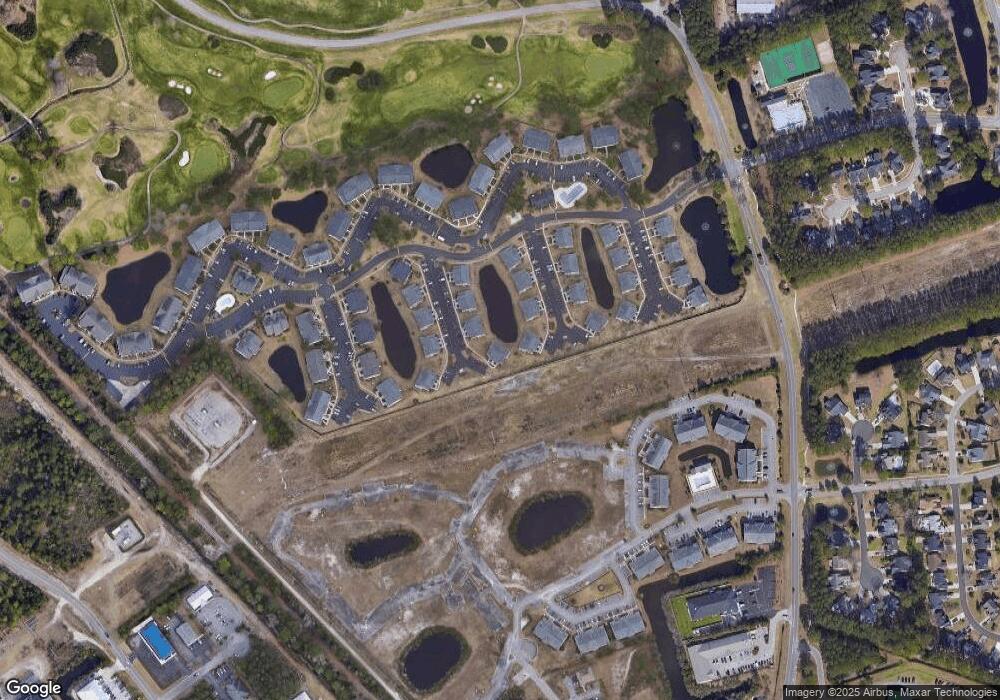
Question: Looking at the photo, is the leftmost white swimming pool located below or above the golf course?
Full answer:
It's below the golf course that the leftmost white swimming pool shows up.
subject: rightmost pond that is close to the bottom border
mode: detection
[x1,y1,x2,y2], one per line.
[642,561,751,700]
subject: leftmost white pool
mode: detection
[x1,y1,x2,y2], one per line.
[215,294,235,313]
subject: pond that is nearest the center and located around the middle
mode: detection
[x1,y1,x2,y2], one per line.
[479,266,519,342]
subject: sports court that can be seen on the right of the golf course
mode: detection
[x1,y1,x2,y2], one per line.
[760,38,820,88]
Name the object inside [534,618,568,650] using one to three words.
building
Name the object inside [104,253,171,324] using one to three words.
pond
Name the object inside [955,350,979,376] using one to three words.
house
